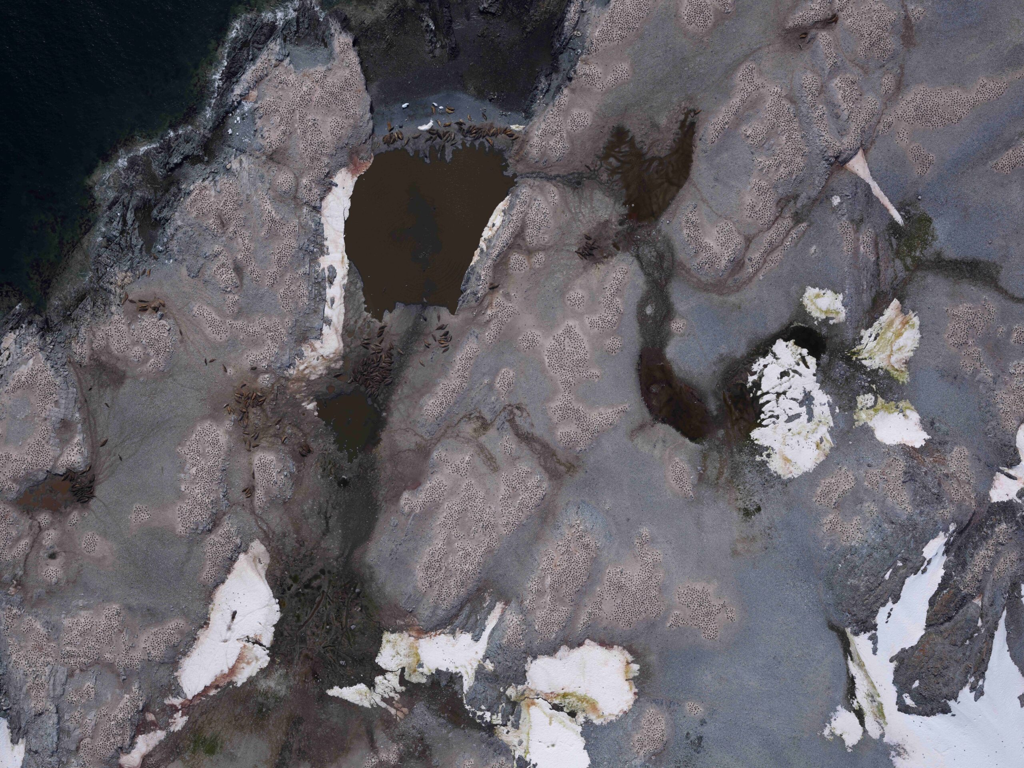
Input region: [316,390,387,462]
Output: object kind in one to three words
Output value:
pond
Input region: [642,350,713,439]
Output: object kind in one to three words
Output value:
pond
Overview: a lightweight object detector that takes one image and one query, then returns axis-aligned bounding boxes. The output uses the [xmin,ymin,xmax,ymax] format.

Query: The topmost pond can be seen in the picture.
[608,114,694,220]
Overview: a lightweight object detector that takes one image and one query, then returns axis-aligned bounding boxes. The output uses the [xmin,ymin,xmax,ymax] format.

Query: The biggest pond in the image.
[344,142,517,320]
